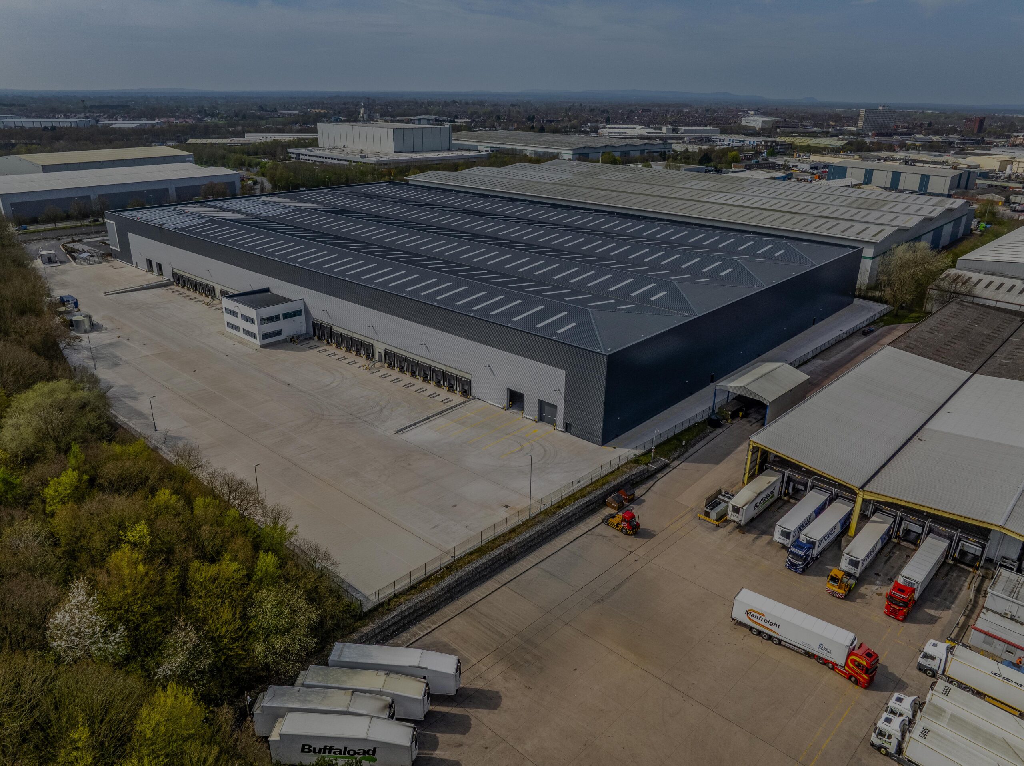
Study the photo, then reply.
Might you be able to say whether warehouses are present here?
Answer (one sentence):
Yes, there's a warehouse here.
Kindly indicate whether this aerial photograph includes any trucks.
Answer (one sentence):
Yes, a truck can be made out from above.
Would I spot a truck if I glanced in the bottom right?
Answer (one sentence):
Yes, you'll find a truck in the bottom right.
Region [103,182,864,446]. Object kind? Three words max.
warehouse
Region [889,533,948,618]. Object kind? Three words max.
truck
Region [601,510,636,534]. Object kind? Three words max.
work vehicle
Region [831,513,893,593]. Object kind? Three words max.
truck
